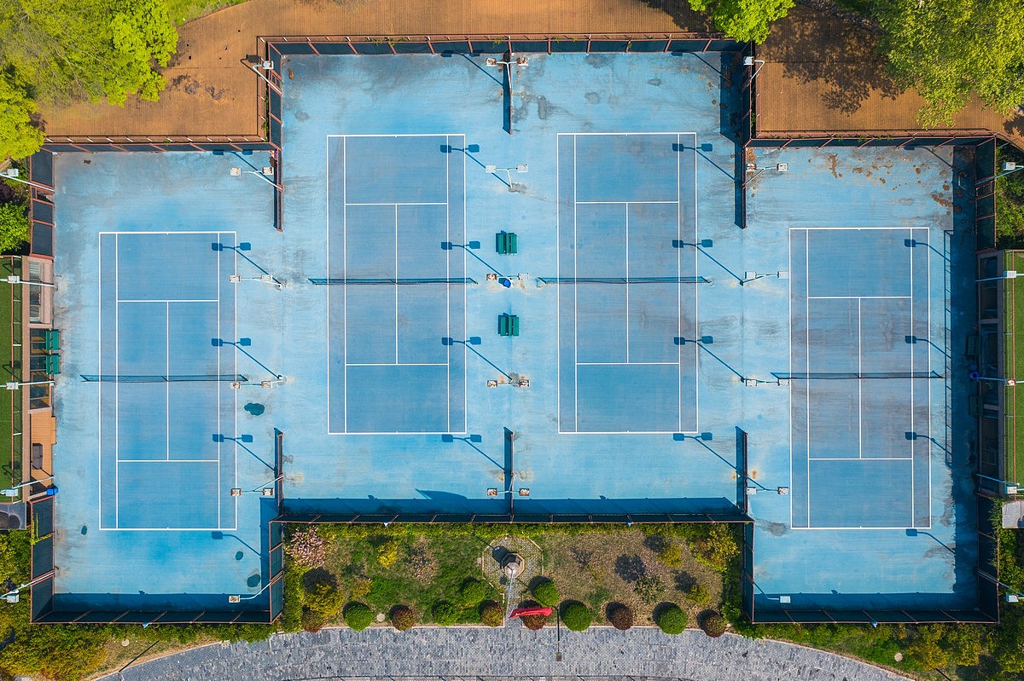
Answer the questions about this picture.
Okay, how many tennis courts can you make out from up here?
4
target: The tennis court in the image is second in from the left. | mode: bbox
[327,133,466,434]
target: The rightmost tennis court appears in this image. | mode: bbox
[789,227,931,530]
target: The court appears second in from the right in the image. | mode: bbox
[557,132,698,434]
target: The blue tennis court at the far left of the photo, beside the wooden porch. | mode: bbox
[99,231,237,531]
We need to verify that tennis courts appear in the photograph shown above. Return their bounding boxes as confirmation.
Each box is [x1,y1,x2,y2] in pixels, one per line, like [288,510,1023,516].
[789,227,931,530]
[327,133,466,434]
[557,132,698,434]
[99,231,237,531]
